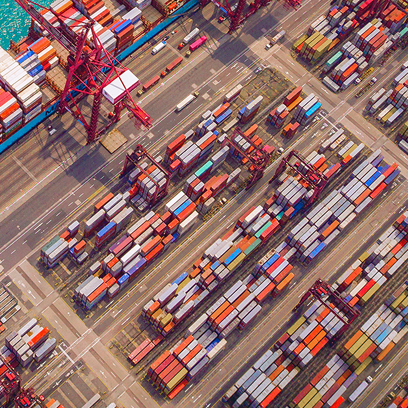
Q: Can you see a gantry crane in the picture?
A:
Yes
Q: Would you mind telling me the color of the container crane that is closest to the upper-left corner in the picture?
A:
red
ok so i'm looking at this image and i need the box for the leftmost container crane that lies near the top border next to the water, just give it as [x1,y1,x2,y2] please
[10,0,154,146]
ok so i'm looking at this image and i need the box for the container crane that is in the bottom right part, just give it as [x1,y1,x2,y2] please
[296,275,364,343]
